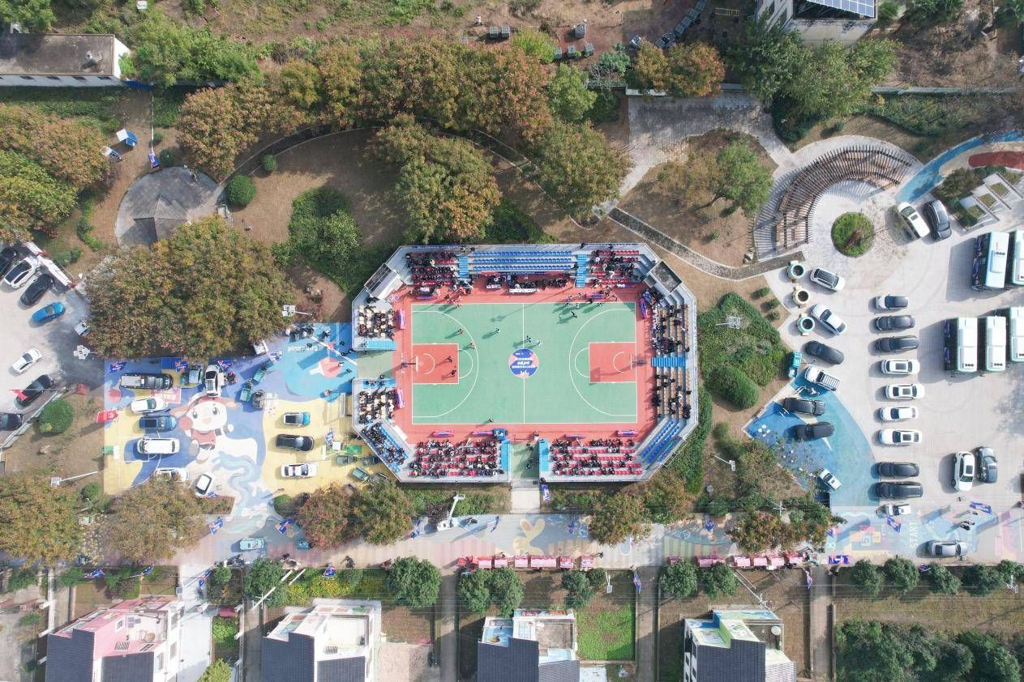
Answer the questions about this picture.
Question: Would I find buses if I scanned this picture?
Yes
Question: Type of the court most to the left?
basketball court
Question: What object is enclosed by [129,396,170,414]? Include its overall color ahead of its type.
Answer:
white car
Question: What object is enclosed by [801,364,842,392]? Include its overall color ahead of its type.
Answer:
white truck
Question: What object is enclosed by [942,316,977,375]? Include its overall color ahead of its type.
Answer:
white bus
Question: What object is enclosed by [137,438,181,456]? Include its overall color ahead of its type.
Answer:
white vehicle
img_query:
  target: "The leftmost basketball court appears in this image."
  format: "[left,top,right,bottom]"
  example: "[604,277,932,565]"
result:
[358,272,653,480]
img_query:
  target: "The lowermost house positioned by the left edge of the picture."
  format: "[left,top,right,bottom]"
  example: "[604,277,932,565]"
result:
[49,593,178,682]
